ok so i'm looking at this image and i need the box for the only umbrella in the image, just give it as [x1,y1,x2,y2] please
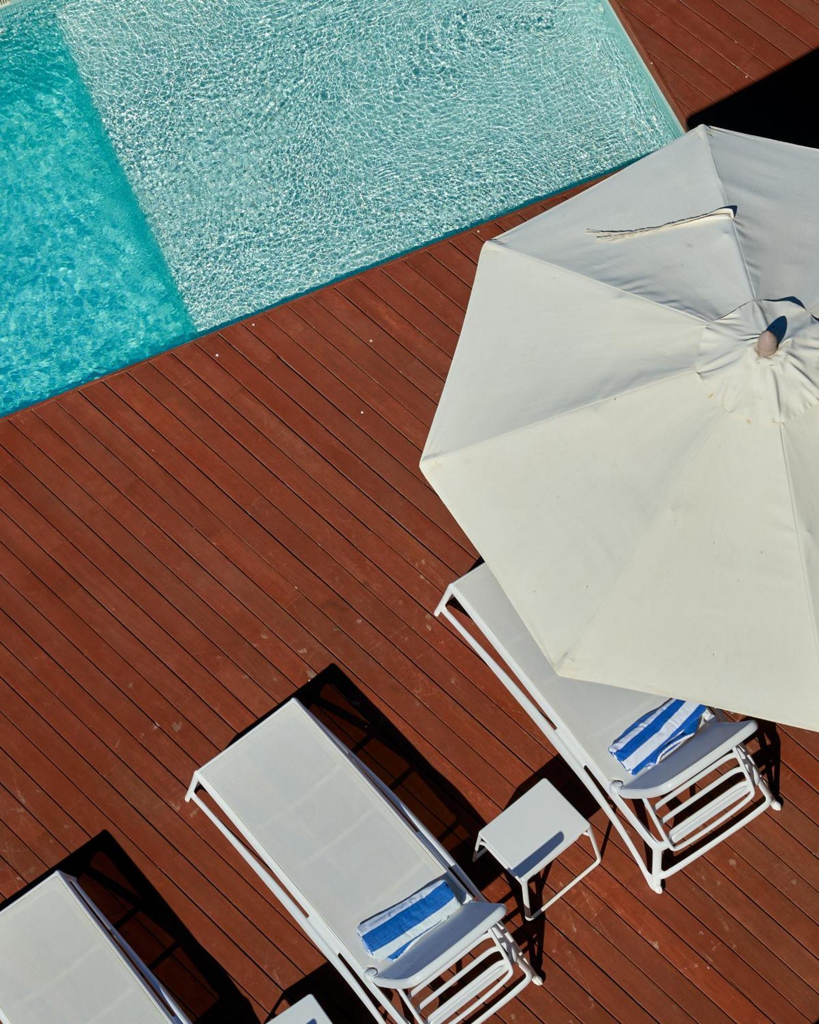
[419,125,819,730]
